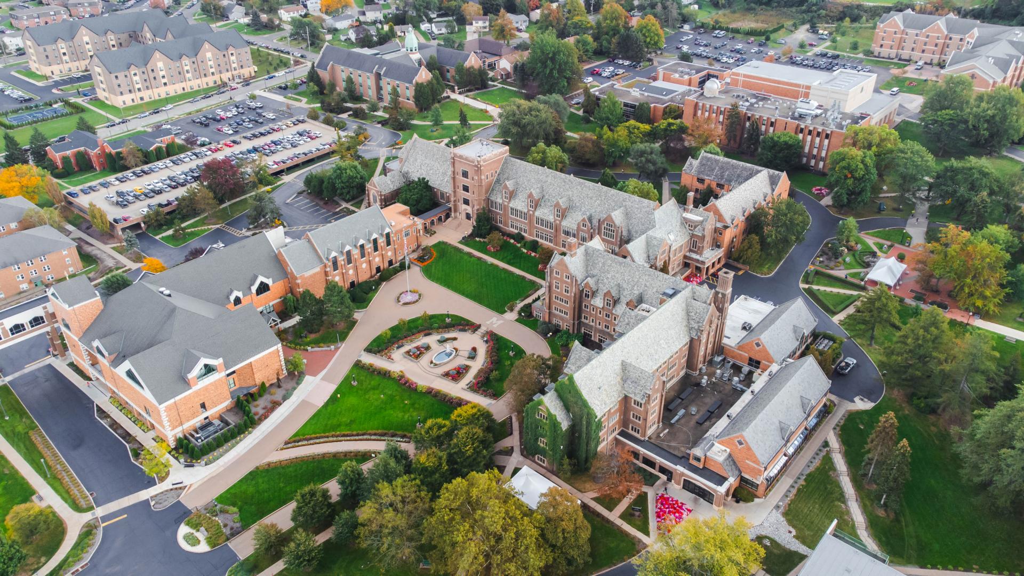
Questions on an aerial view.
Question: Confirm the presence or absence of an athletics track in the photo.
No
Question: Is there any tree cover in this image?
Yes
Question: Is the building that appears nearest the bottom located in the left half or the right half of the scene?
right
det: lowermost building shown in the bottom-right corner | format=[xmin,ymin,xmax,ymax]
[799,520,915,576]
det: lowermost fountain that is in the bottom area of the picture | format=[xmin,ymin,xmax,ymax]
[432,346,455,363]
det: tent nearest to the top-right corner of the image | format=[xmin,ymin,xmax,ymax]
[863,257,908,293]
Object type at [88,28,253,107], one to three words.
building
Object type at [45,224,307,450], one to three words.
building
